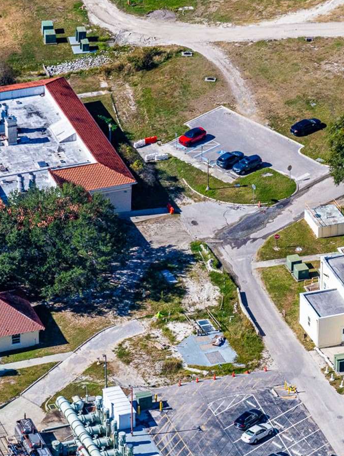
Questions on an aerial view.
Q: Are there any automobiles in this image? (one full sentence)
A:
Yes, there is an automobile in the image.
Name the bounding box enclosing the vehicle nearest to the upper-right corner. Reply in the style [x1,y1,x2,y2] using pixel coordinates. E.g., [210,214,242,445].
[289,118,324,135]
